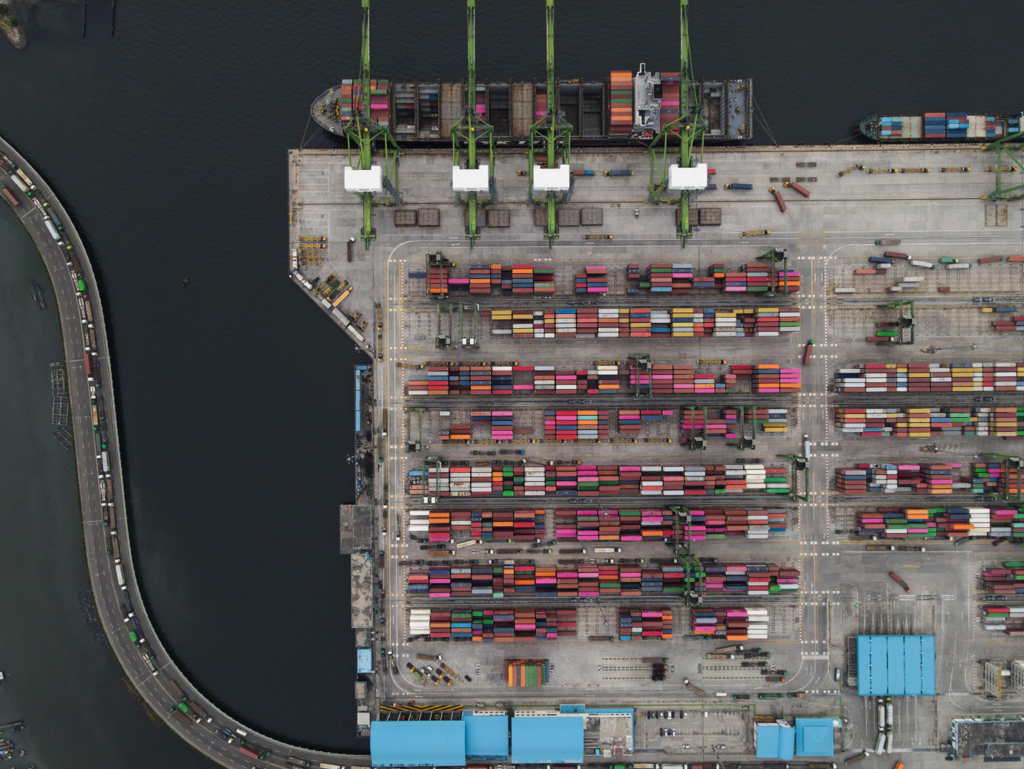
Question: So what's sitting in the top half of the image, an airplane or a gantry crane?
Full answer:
Looking in the top half of the image, you will find a gantry crane.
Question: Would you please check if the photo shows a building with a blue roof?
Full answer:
Yes, the frame does contain a building with a blue roof.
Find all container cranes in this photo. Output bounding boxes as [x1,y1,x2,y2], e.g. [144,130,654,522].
[447,0,503,251]
[977,452,1024,501]
[753,249,789,299]
[673,553,704,607]
[677,403,708,451]
[641,0,707,251]
[344,0,407,251]
[724,403,758,450]
[424,251,452,301]
[421,456,448,506]
[435,301,459,349]
[458,301,484,349]
[406,405,431,453]
[774,453,810,502]
[662,502,692,554]
[519,0,576,251]
[875,298,917,346]
[625,354,652,400]
[976,132,1024,205]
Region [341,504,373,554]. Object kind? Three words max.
building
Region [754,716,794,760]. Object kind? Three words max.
building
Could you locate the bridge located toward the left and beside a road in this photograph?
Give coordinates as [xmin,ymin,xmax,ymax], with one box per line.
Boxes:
[0,137,429,769]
